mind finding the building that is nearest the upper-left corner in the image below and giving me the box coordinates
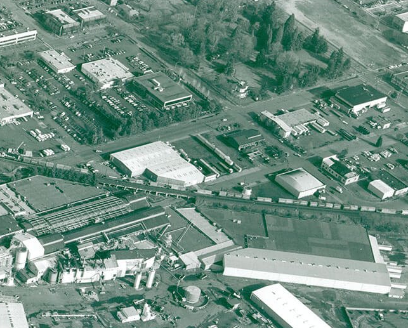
[0,26,37,46]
